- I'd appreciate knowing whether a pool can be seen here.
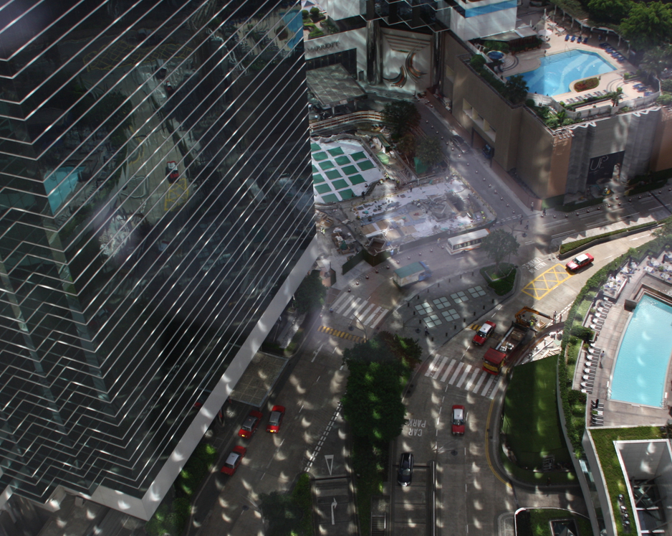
Yes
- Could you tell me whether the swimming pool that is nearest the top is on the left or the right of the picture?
right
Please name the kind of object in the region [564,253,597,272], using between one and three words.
car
